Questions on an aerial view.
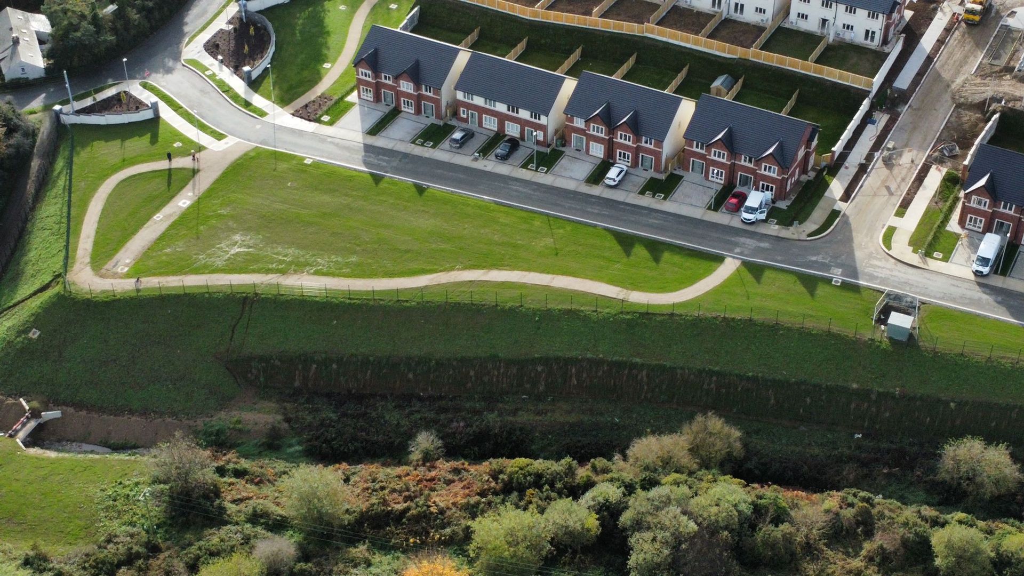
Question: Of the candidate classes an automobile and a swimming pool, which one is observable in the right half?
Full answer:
Looking in the right half, you will find an automobile.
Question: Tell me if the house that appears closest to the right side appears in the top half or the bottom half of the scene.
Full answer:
You can find the house that appears closest to the right side in the top half.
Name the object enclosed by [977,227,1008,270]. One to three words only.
van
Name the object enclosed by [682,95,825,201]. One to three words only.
house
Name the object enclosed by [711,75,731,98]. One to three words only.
shed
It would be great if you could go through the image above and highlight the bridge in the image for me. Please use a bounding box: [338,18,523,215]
[0,399,61,451]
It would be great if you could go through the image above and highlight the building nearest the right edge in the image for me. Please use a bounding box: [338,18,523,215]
[958,142,1024,239]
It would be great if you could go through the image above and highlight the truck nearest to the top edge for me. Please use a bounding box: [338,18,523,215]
[966,0,991,22]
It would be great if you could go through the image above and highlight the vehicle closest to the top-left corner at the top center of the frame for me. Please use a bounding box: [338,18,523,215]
[449,125,475,148]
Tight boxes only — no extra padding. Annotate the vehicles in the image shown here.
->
[726,189,750,211]
[966,0,991,22]
[606,163,631,185]
[977,227,1008,270]
[745,185,777,219]
[449,125,475,148]
[495,138,520,159]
